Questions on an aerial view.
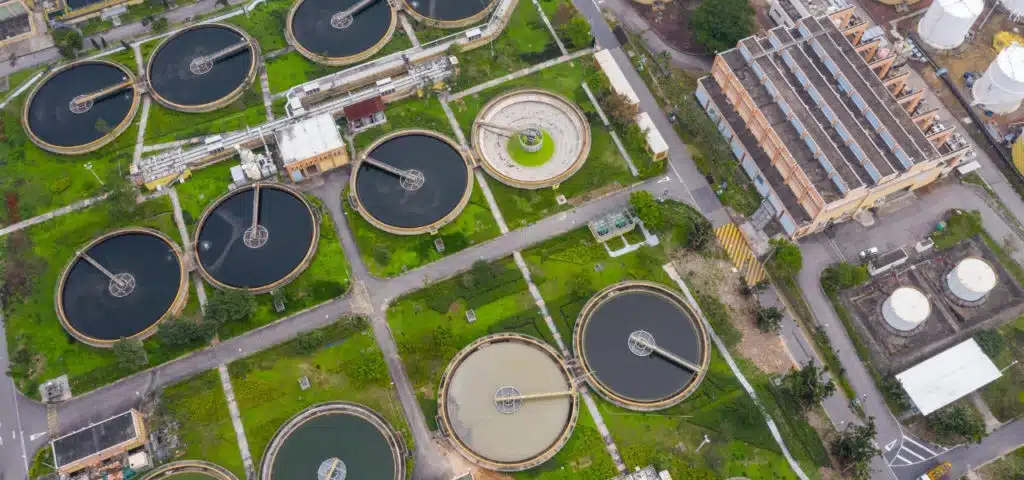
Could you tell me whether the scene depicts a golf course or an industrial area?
industrial area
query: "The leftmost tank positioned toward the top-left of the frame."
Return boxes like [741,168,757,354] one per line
[23,59,143,155]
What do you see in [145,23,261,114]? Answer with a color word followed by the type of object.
black storage tank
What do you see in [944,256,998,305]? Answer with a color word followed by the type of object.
white storage tank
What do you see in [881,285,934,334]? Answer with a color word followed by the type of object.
white storage tank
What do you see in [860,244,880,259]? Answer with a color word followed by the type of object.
white car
